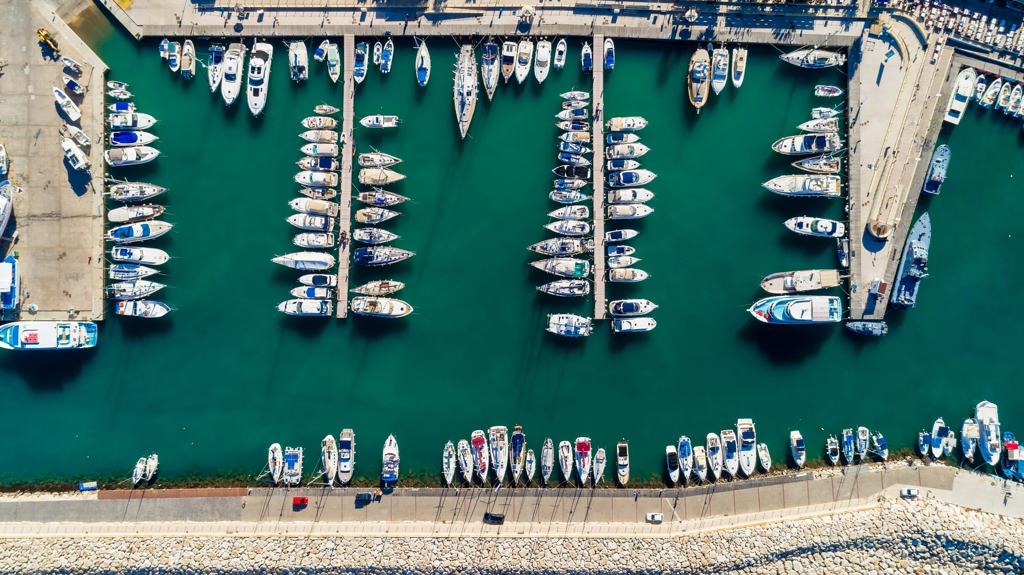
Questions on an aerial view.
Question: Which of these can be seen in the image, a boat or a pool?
boat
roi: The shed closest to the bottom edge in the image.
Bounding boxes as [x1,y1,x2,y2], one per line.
[864,275,889,296]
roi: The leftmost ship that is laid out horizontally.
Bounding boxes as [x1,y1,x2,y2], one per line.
[0,320,104,351]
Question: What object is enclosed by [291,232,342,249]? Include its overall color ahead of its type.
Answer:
white boat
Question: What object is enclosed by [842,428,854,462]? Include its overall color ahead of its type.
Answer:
blue boat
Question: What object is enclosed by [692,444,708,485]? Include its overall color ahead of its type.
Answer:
white boat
